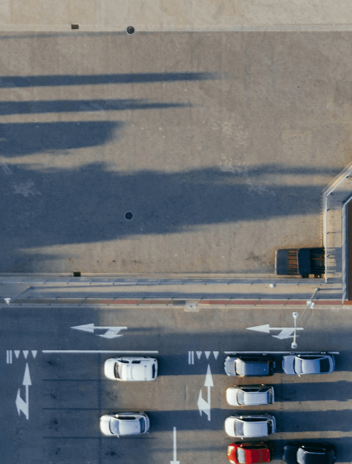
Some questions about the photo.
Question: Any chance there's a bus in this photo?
No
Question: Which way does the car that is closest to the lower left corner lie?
from left to right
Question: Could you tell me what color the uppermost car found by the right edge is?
blue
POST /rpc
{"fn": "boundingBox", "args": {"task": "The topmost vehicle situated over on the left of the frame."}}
[105,356,159,385]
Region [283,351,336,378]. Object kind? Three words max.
car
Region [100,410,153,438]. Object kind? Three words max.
car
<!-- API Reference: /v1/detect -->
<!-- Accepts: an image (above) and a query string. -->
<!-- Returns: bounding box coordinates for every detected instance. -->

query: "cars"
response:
[283,351,336,378]
[228,441,273,464]
[226,383,275,409]
[225,412,278,439]
[284,441,336,464]
[100,410,153,438]
[224,352,275,380]
[105,356,159,385]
